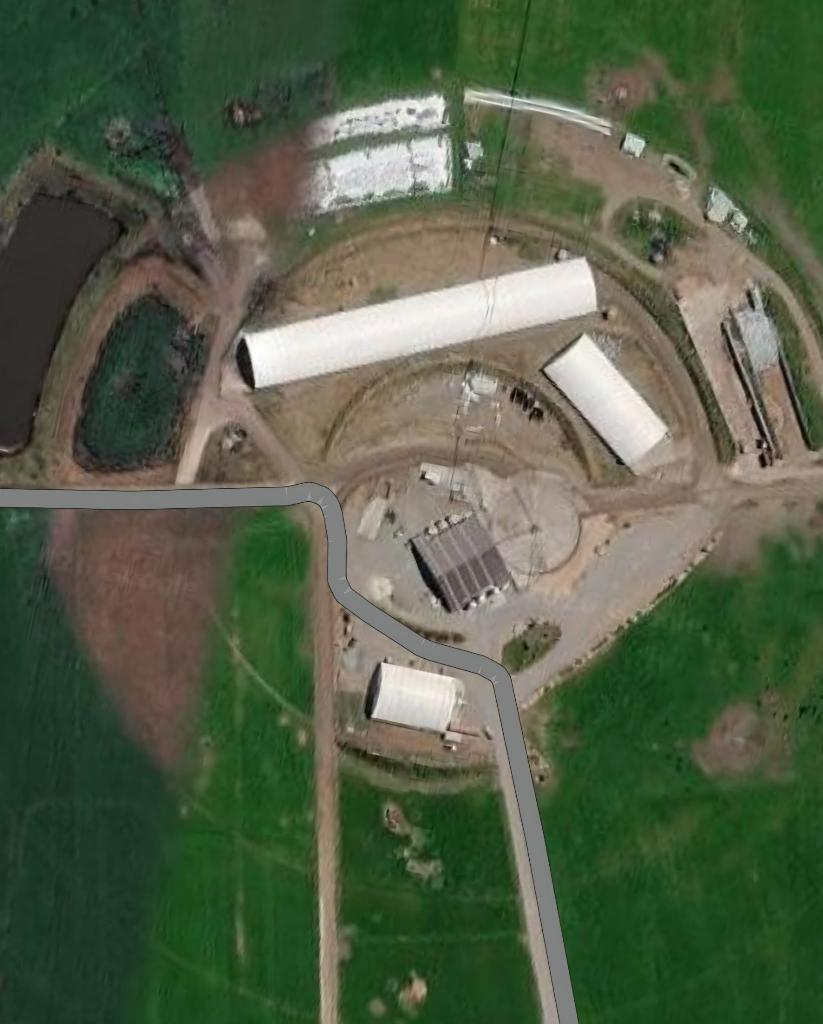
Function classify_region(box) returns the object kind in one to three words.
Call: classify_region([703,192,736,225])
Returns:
shed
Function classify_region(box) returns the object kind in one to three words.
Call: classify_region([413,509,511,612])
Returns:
building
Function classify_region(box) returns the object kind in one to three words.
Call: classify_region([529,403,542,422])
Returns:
vehicle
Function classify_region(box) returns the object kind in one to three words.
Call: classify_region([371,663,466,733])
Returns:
barn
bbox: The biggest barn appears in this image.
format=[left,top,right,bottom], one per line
[245,259,598,388]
